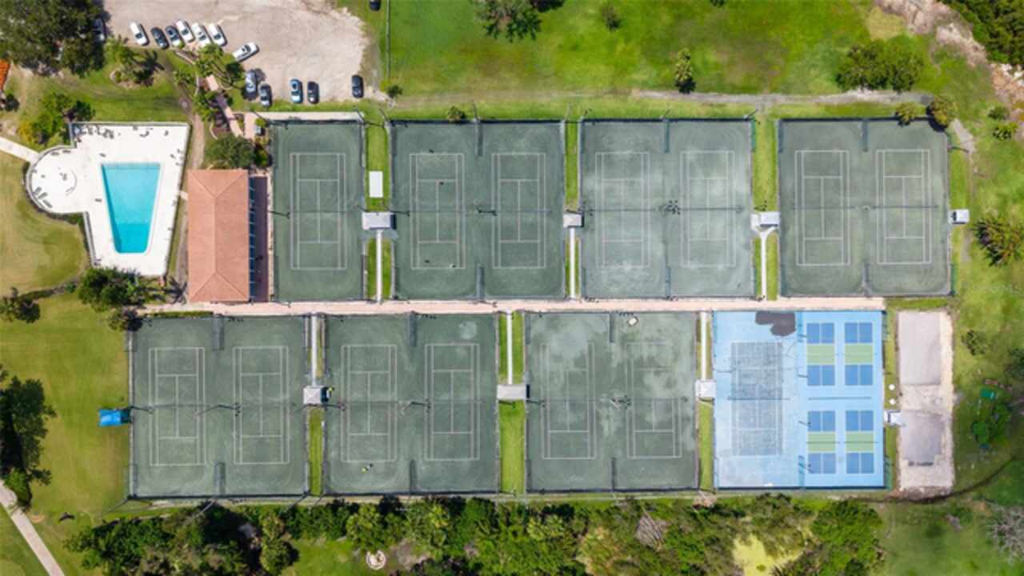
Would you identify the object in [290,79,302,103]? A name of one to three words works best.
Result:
vehicle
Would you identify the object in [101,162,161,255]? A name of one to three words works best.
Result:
swimming pool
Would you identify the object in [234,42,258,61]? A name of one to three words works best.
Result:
car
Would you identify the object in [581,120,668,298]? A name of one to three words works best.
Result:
tennis court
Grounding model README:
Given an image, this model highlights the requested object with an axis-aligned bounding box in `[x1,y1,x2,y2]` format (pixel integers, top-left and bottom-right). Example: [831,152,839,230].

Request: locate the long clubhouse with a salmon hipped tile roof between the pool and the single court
[187,169,257,303]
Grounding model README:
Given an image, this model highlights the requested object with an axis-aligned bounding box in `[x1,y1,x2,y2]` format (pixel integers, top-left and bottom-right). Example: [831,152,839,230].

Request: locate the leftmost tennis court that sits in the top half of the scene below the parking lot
[273,120,363,301]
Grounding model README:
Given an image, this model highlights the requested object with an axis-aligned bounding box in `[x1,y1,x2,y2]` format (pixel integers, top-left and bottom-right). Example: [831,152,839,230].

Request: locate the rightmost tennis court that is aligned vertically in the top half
[864,118,951,296]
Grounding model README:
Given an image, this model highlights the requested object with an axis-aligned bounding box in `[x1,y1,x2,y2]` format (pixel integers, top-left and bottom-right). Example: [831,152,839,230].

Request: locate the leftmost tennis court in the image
[130,316,219,497]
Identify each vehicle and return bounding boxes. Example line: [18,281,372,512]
[369,0,380,12]
[129,21,149,46]
[290,79,302,103]
[234,42,258,61]
[151,27,170,50]
[351,74,362,98]
[191,23,209,47]
[164,25,182,47]
[207,23,225,46]
[307,81,318,104]
[260,84,272,107]
[175,20,194,44]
